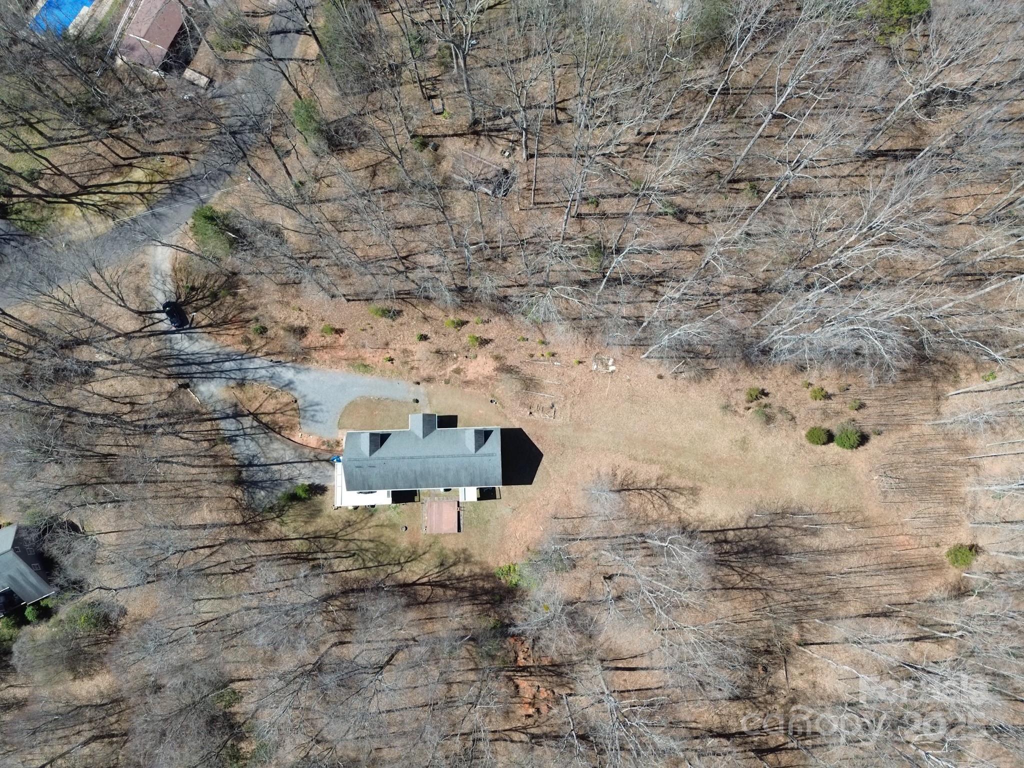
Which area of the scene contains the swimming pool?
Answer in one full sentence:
You can find the swimming pool in the top left area of the picture.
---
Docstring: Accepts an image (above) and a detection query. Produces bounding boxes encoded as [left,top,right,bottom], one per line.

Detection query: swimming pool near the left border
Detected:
[23,0,107,48]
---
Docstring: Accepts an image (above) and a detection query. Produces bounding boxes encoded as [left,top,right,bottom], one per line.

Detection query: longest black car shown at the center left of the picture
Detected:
[161,299,180,327]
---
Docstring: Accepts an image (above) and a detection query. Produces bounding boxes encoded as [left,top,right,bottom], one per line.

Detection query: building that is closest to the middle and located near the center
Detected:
[343,413,503,492]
